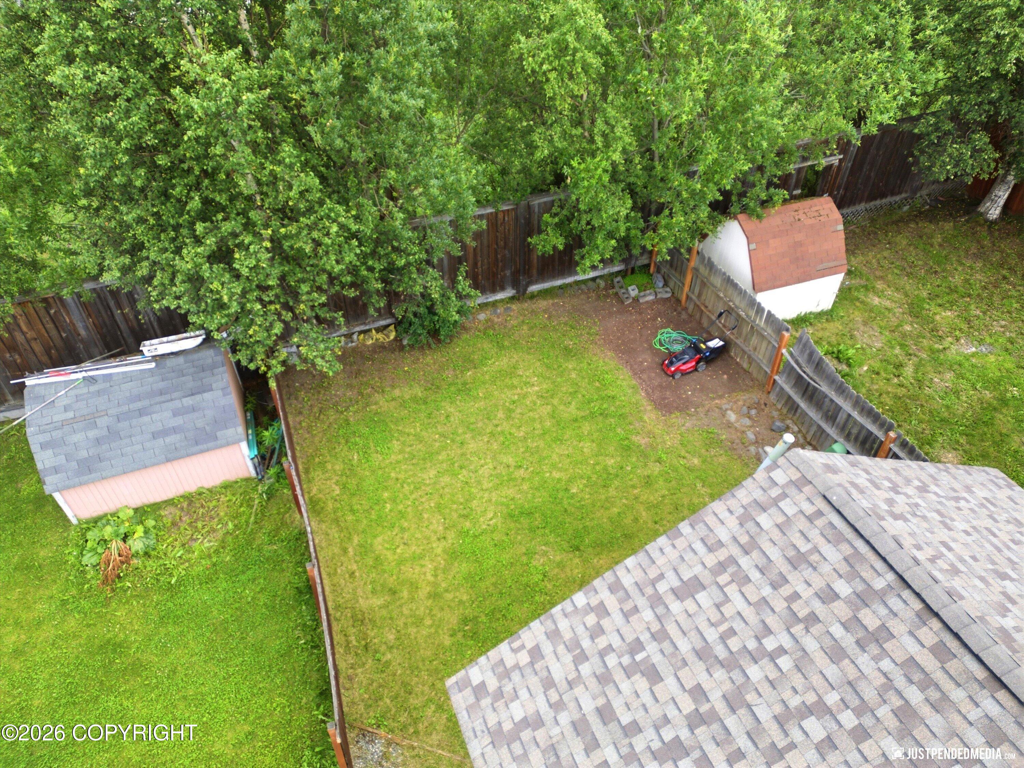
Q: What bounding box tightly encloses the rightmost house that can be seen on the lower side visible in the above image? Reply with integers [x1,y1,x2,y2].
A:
[444,447,1024,768]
